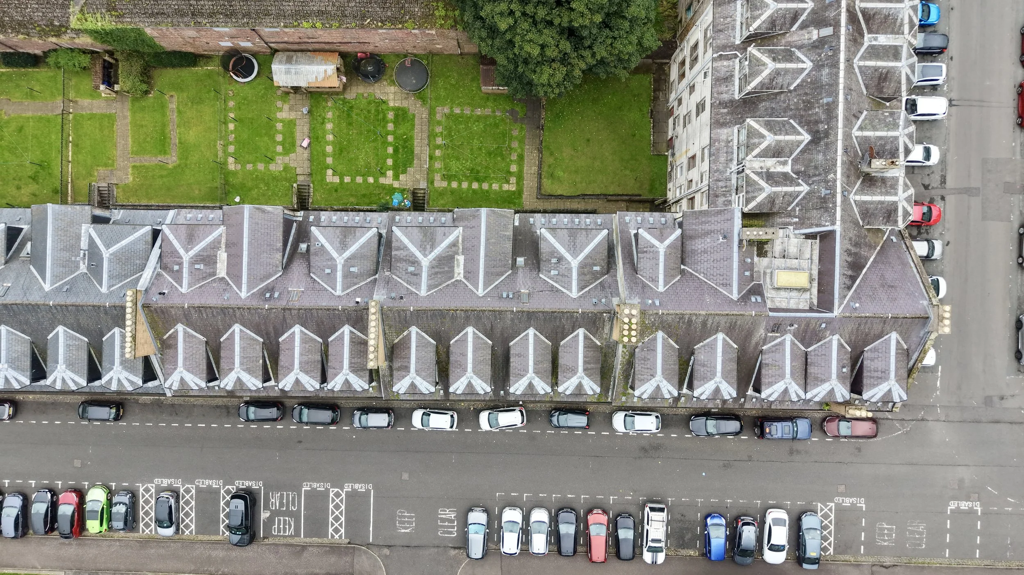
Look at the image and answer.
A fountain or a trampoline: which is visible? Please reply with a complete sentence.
The one in the frame is a trampoline.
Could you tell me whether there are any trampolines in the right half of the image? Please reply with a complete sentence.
No, the scene shows no trampoline in the right half of the image.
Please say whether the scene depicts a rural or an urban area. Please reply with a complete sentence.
This place is urban.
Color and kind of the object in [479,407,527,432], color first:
white car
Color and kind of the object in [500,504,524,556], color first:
white car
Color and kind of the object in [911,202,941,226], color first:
red car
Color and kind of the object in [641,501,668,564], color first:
white truck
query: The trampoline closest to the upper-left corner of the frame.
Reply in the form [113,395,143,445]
[220,46,258,83]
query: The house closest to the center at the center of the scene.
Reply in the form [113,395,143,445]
[380,209,619,409]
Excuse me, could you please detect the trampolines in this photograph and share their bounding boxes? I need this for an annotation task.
[352,51,390,83]
[220,46,258,83]
[393,57,430,93]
